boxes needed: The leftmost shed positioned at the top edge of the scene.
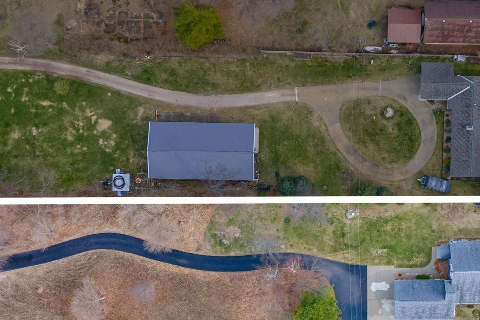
[387,9,421,46]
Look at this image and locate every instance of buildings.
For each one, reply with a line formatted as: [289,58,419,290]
[387,9,421,46]
[419,62,480,176]
[423,2,480,47]
[146,121,256,182]
[394,240,480,320]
